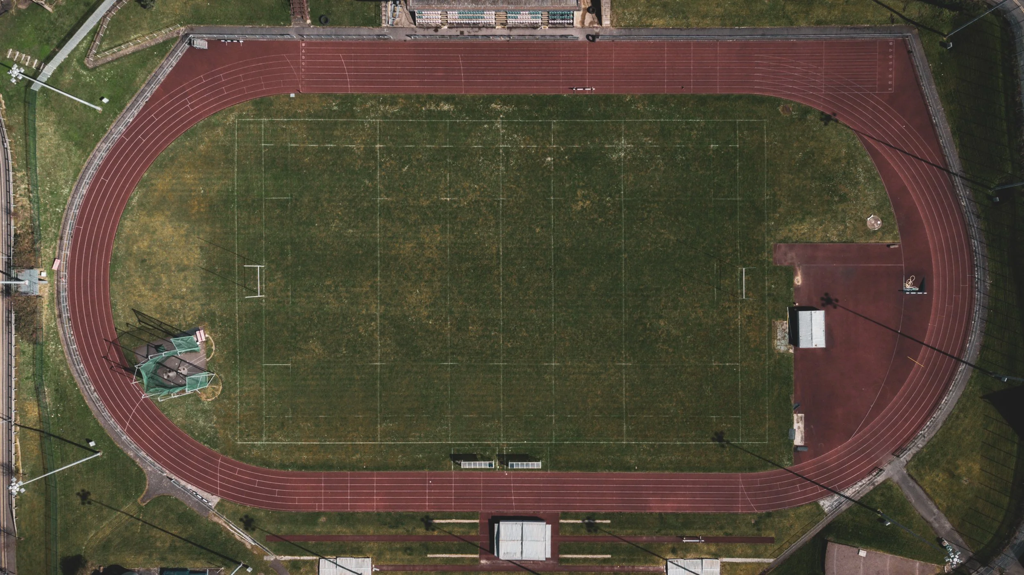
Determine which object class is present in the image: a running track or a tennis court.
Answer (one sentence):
Looking from above, you can make out a running track.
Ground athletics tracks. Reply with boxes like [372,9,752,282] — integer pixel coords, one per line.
[67,37,976,512]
